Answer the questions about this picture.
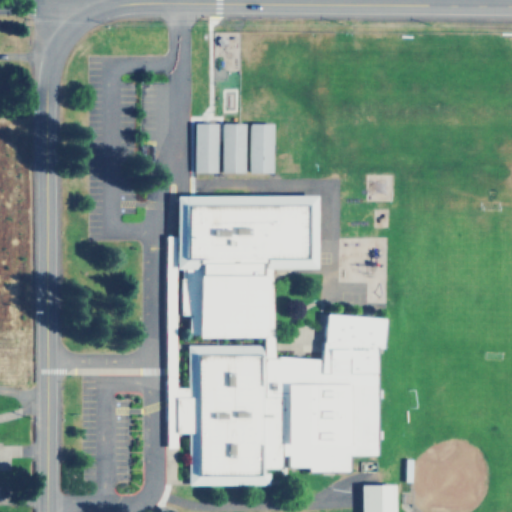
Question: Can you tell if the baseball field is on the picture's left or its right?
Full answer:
It is on the right.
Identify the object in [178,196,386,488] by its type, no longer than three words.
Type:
building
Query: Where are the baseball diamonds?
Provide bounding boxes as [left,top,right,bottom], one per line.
[413,439,489,512]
